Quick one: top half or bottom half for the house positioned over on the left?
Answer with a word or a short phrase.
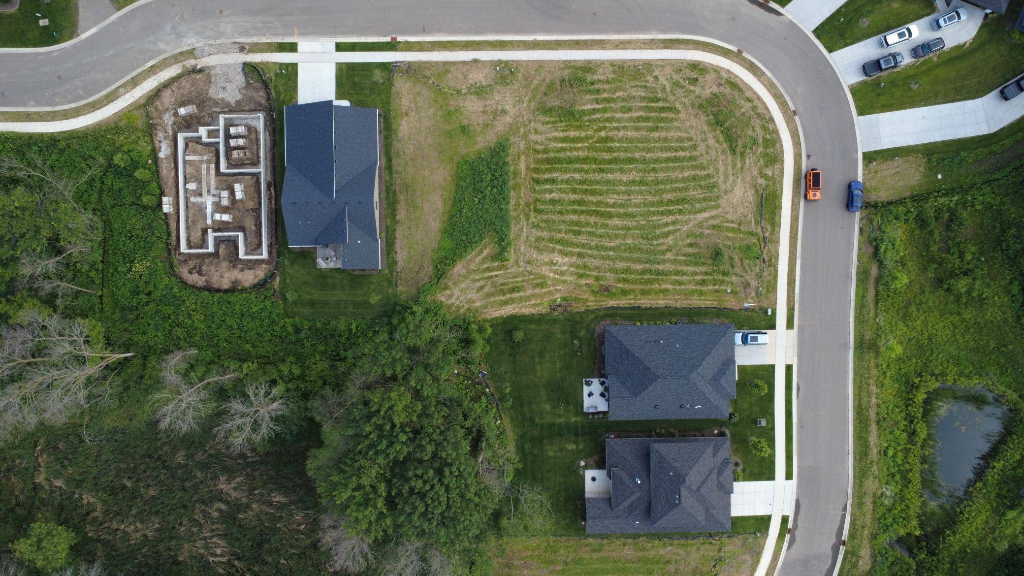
top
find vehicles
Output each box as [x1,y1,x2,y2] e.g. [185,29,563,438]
[879,27,914,49]
[909,37,945,61]
[996,73,1024,101]
[929,9,964,33]
[733,330,767,347]
[803,171,820,201]
[860,55,900,78]
[844,182,863,212]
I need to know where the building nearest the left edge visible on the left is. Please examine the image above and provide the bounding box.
[281,100,382,270]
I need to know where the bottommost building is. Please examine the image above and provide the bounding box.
[585,436,733,534]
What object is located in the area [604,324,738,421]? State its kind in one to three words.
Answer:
house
